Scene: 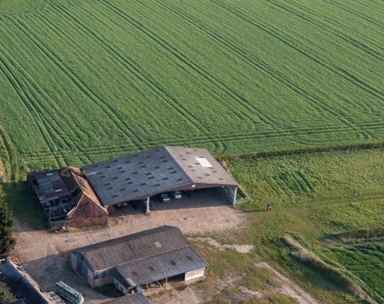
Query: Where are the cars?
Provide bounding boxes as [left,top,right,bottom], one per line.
[130,203,140,212]
[186,190,197,198]
[173,191,184,200]
[161,195,170,205]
